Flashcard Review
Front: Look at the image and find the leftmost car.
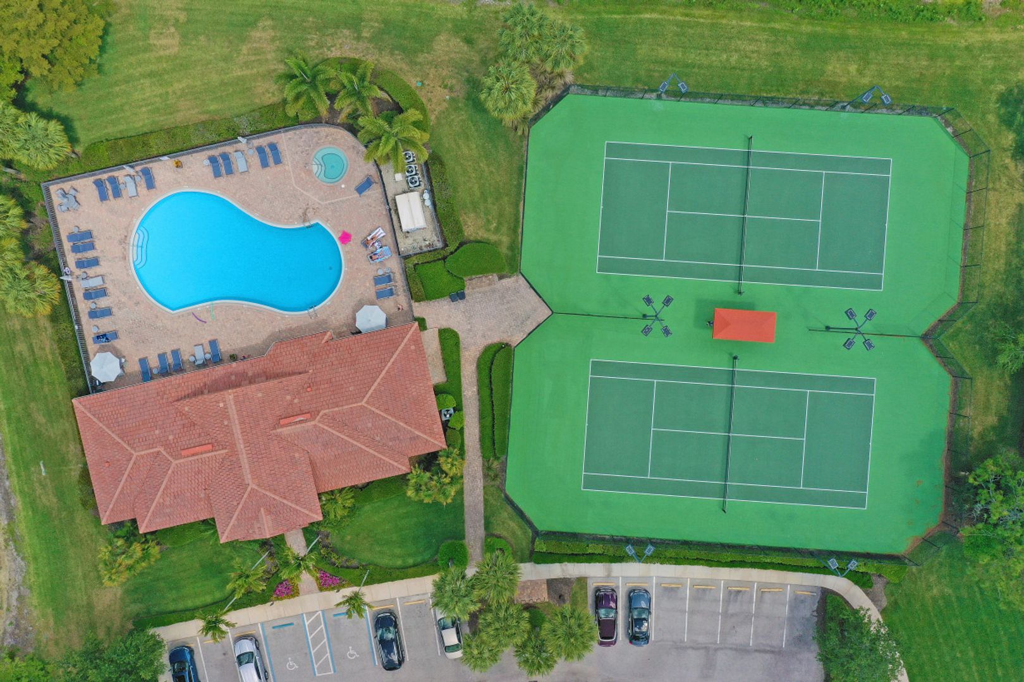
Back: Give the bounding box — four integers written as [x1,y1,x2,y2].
[172,644,204,682]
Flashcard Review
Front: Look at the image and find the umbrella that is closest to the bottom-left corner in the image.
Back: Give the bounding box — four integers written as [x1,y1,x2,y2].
[93,352,123,381]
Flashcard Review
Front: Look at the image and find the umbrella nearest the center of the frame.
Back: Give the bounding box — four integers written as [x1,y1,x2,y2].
[357,305,386,332]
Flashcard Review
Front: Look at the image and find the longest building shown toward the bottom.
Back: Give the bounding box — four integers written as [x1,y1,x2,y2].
[71,321,446,544]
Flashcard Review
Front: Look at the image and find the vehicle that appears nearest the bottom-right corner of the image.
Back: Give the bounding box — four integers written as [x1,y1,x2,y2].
[627,588,653,646]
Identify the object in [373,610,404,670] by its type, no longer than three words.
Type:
car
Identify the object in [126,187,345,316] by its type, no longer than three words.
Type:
swimming pool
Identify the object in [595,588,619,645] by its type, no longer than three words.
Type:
car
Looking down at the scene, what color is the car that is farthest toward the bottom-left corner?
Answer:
blue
